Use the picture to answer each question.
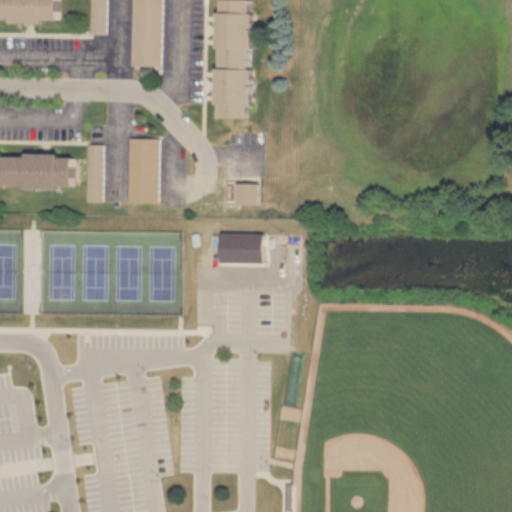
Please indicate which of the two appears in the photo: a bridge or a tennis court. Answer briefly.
tennis court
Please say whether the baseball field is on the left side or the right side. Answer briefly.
right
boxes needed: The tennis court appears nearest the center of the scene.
[148,246,177,302]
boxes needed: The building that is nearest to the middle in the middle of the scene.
[220,234,265,263]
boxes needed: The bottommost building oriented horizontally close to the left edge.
[0,154,78,190]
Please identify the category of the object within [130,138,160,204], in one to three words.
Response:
building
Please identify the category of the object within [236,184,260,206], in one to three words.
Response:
shed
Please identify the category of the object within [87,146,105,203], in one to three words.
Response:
building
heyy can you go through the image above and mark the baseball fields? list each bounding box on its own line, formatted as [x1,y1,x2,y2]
[297,304,512,512]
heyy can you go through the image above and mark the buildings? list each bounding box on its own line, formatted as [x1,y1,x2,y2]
[0,0,64,24]
[220,234,265,263]
[87,146,105,203]
[217,0,254,13]
[0,154,78,190]
[130,138,160,204]
[132,0,162,70]
[214,14,254,69]
[212,70,254,120]
[91,0,108,36]
[236,184,260,206]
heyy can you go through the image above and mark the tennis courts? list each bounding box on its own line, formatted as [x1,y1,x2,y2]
[0,244,18,299]
[114,246,143,302]
[83,245,108,301]
[49,244,75,300]
[148,246,177,302]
